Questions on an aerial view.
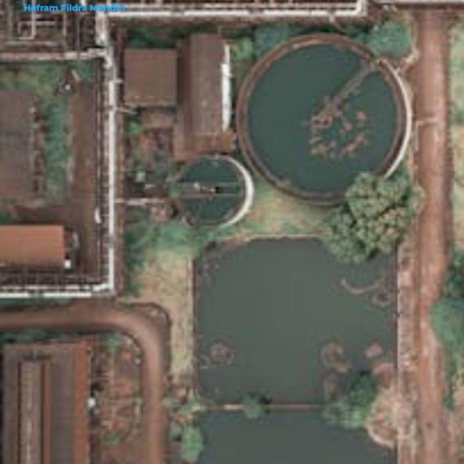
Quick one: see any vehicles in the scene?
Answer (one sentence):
No, I can see no vehicle in this picture.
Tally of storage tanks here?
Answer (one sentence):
The count of storage tanks comes to 2.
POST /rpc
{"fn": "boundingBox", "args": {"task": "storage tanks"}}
[178,155,257,227]
[238,33,420,202]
